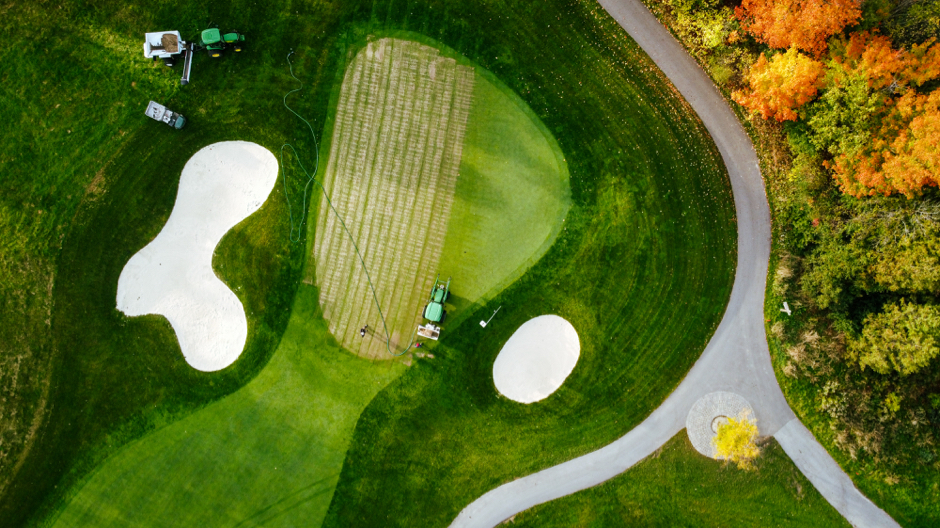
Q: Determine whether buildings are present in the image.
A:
No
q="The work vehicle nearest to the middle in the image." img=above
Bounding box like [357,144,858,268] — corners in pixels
[422,275,452,325]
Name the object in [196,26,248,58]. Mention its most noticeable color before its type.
green work vehicle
